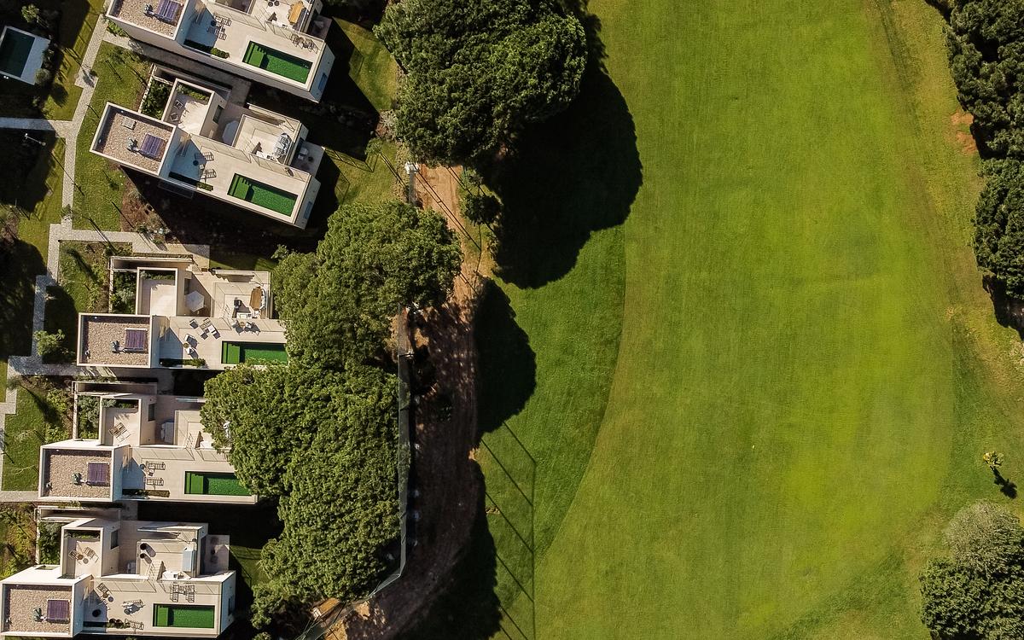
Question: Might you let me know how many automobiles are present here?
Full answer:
Not a single automobile can be seen.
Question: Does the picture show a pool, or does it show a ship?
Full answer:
It is a pool that can be seen here.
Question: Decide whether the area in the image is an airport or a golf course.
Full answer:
The picture captures a golf course.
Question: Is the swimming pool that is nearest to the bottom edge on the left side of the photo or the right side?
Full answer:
The swimming pool that is nearest to the bottom edge is on the left side of the image.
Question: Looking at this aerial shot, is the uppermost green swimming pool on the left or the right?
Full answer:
You can find the uppermost green swimming pool on the left side of the picture.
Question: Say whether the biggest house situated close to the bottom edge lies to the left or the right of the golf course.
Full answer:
To the left of the golf course is where the biggest house situated close to the bottom edge appears.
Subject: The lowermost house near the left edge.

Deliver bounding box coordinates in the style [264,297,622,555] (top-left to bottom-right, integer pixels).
[2,505,234,639]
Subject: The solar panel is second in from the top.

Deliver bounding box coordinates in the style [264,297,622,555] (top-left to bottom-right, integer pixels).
[142,128,169,158]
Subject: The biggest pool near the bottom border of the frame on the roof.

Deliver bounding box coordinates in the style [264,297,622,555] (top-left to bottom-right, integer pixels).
[149,602,214,625]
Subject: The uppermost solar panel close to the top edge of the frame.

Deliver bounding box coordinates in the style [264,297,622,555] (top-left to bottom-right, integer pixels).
[157,0,185,23]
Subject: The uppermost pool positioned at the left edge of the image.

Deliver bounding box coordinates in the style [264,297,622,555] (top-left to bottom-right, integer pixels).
[0,23,49,84]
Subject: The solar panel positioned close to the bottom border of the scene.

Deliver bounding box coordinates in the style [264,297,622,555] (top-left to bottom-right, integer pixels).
[50,597,73,620]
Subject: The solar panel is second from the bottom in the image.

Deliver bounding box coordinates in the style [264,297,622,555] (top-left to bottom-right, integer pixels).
[88,459,111,483]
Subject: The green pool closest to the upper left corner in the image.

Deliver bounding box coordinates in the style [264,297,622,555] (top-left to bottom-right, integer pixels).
[245,41,312,83]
